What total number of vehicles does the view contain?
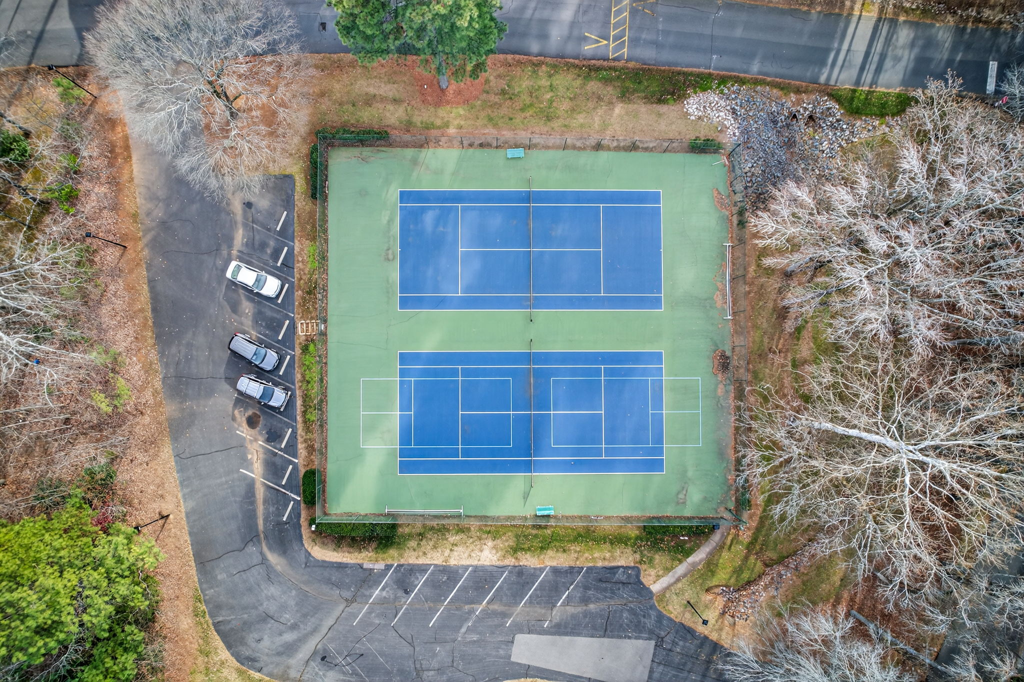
3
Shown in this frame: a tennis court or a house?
tennis court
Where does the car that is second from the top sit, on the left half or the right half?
left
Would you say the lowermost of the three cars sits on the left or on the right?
left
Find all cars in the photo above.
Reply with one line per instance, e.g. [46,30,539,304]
[236,374,289,407]
[229,334,282,372]
[227,263,282,298]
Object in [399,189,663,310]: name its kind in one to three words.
tennis court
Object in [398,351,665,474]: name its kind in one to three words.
tennis court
